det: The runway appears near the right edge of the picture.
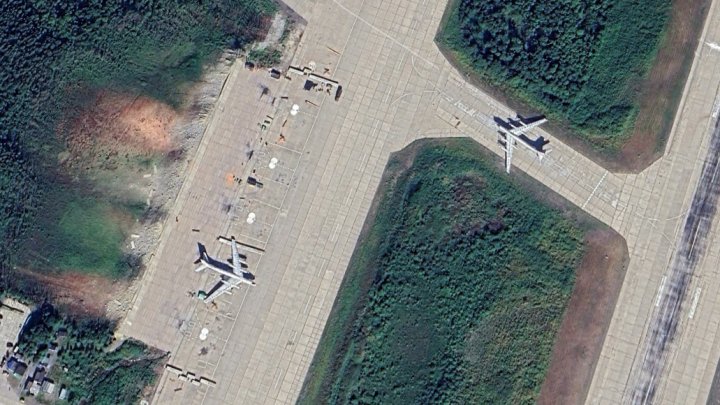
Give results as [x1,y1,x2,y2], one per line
[586,0,720,405]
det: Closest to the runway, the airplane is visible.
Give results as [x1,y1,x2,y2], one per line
[494,117,553,170]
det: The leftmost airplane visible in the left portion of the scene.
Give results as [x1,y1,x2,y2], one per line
[193,238,258,303]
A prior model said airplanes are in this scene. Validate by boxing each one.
[494,117,553,170]
[193,238,258,303]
